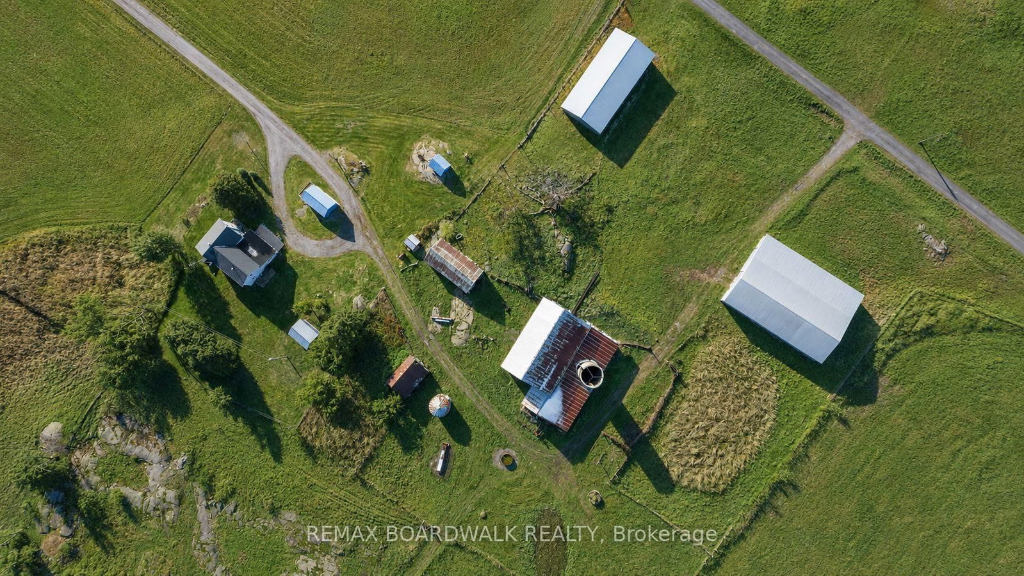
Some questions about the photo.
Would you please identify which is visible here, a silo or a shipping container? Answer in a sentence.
It is a silo that can be seen here.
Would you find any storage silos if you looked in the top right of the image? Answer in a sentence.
No, looking in the top right of the image, there is no storage silo.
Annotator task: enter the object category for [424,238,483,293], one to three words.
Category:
shed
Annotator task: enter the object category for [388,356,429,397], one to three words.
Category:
shed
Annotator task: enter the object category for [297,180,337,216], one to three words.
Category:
building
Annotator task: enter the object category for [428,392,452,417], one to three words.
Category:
silo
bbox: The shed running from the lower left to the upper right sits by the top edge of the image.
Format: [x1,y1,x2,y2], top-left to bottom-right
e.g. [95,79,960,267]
[562,27,655,136]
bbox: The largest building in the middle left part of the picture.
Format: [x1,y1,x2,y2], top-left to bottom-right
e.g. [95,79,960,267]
[196,218,288,287]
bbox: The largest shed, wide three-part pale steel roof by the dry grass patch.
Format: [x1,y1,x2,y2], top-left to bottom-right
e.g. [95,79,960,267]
[718,234,863,362]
